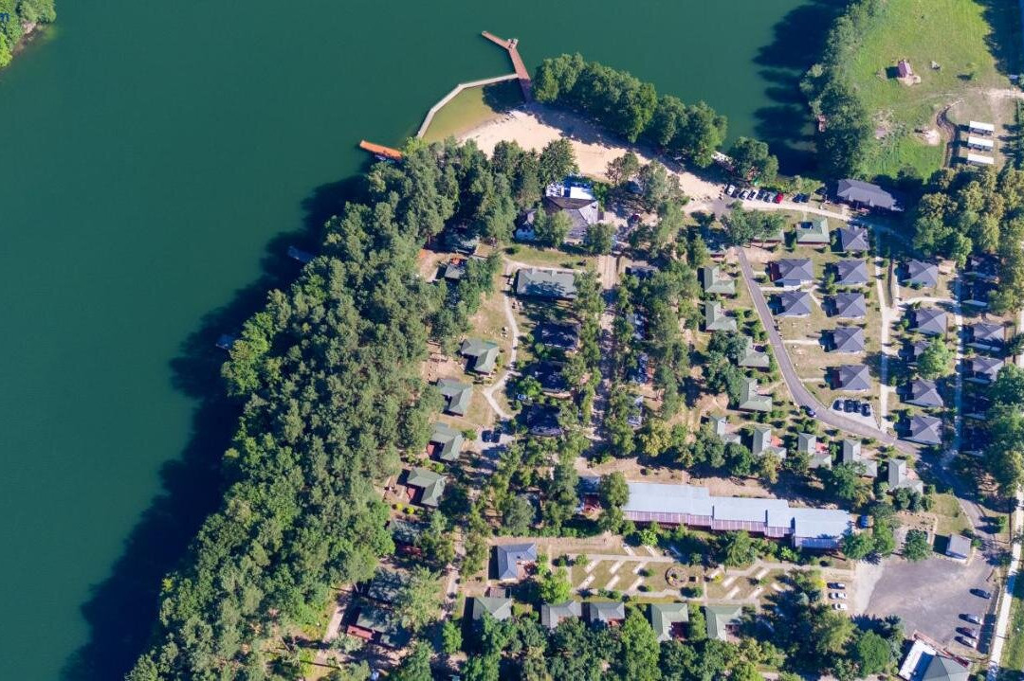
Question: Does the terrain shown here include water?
Yes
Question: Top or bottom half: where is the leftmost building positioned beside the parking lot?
bottom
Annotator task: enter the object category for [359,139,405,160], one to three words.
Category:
pier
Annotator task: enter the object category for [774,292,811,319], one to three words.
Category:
building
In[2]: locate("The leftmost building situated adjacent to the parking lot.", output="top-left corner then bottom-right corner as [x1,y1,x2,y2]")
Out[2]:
[621,482,852,548]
